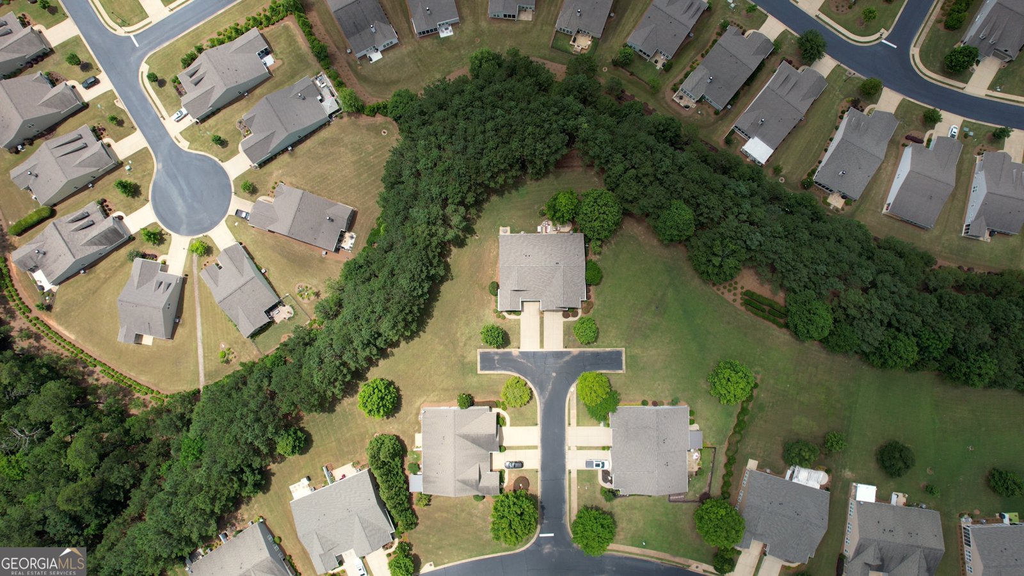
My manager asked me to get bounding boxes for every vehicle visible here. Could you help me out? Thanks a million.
[505,460,524,468]
[947,122,958,137]
[82,76,101,90]
[355,560,370,576]
[172,108,189,124]
[586,460,609,469]
[230,207,248,220]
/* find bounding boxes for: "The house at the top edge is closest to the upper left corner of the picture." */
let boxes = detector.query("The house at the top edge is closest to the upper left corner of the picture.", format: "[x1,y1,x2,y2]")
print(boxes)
[0,11,50,78]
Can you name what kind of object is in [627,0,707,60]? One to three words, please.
house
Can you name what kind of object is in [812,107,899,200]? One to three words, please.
house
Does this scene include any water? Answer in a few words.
No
